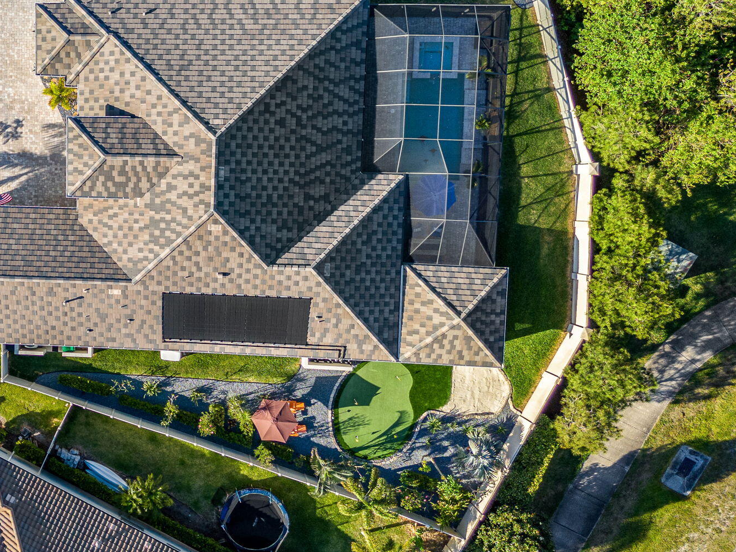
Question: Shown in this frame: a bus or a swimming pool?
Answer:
swimming pool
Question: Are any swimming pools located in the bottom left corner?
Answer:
No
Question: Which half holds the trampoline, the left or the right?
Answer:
left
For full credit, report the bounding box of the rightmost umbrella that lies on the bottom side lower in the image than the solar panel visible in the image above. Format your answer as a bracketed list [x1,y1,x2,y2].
[251,397,297,440]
